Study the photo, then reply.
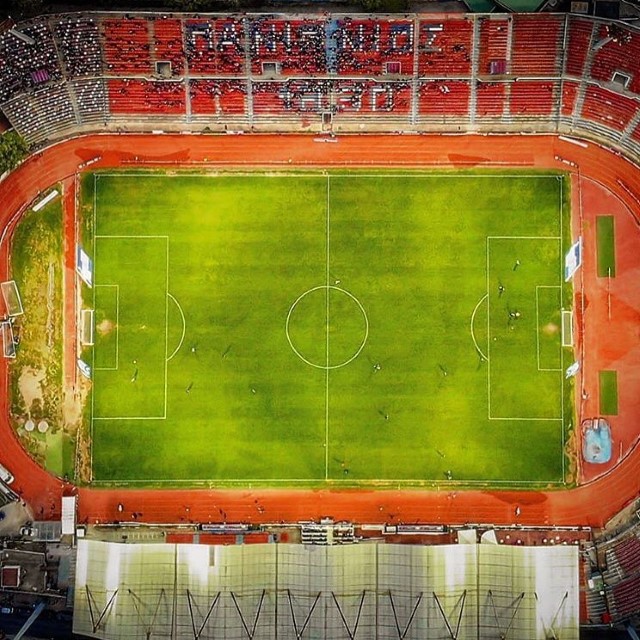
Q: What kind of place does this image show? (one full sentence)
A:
What you see here is a sports ground.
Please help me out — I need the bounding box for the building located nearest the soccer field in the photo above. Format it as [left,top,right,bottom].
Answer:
[62,493,79,534]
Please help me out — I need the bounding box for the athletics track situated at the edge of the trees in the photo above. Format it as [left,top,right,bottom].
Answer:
[0,134,640,524]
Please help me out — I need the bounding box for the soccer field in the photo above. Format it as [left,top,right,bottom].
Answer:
[90,174,566,483]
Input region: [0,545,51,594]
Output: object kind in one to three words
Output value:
building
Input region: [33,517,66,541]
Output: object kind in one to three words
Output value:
building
